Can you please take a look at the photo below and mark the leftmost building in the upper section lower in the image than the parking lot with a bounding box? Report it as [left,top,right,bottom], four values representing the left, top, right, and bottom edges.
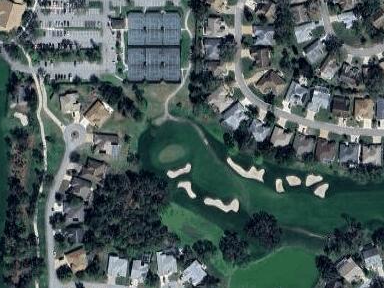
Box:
[59,91,80,112]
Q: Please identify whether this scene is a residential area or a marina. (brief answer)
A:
residential area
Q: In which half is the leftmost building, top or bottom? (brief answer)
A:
top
